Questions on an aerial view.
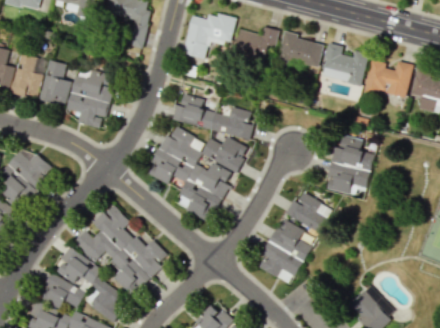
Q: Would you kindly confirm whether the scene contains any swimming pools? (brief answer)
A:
Yes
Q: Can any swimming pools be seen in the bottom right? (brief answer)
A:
Yes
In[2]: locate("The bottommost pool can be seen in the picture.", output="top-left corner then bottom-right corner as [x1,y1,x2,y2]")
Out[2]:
[378,275,410,306]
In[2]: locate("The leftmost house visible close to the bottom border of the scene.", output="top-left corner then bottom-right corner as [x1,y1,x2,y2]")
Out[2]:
[26,306,60,328]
